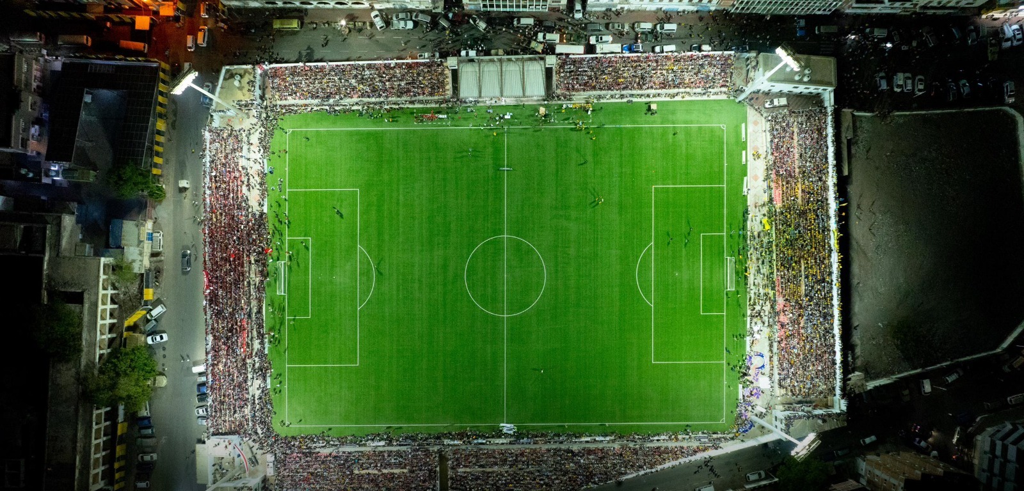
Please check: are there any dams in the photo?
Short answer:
No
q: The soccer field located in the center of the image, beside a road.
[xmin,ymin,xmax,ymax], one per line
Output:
[267,98,748,438]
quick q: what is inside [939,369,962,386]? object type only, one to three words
car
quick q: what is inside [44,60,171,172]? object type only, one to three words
building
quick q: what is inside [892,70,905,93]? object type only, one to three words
vehicle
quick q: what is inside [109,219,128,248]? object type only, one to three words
shed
